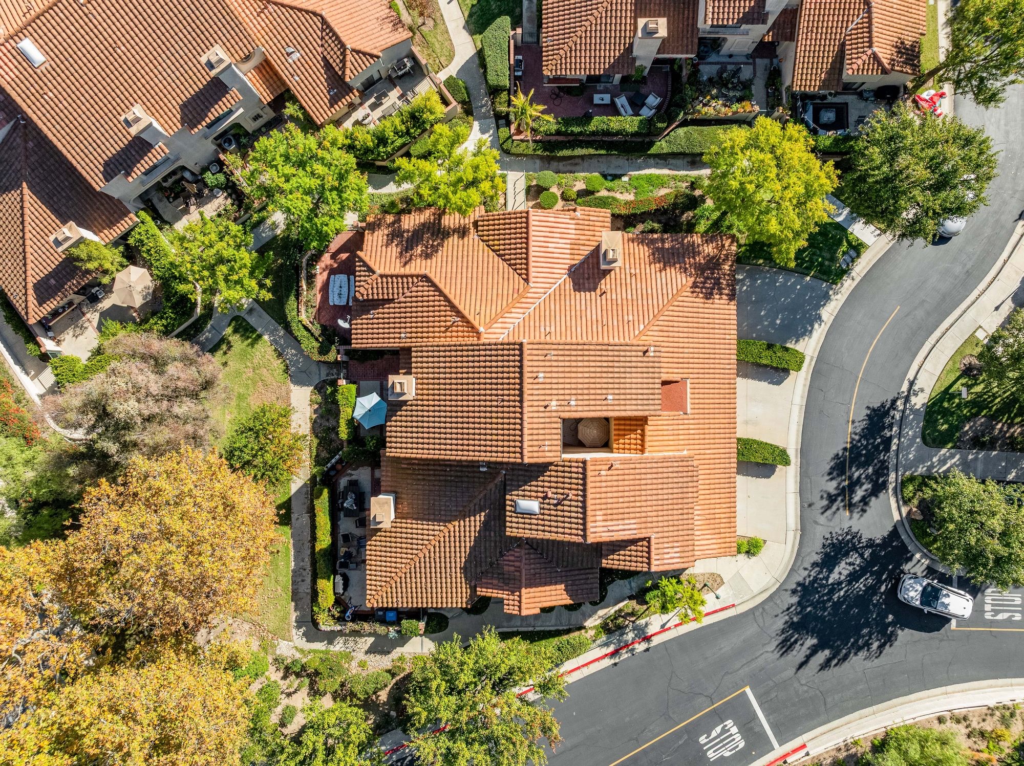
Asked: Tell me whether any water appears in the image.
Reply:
No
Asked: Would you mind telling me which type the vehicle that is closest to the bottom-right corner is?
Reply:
car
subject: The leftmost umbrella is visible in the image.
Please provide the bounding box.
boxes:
[115,267,161,308]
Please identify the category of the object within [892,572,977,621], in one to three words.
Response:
car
